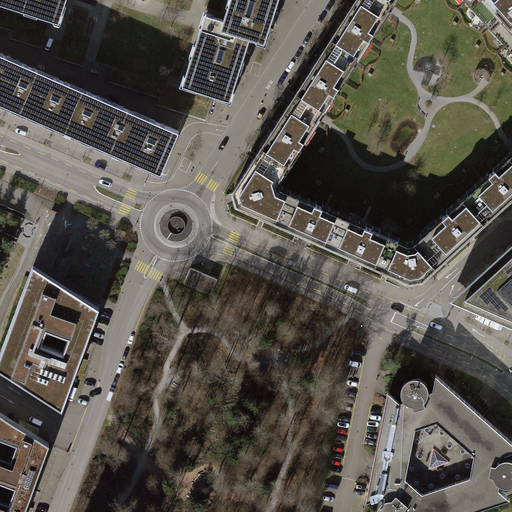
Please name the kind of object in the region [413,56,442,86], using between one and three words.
playground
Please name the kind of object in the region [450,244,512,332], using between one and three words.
building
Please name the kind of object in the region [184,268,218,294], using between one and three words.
building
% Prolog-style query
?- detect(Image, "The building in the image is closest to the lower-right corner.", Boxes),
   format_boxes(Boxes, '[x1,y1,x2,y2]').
[363,371,512,512]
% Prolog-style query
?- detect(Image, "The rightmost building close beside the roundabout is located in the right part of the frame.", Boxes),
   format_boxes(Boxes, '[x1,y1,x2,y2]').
[232,0,512,286]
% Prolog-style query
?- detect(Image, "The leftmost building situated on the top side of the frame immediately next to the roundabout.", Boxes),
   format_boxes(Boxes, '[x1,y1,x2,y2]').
[0,50,179,178]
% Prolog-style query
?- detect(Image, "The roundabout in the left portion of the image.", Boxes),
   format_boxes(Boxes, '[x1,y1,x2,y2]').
[140,189,212,260]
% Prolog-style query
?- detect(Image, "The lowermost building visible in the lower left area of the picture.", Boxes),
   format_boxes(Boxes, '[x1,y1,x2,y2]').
[0,412,50,512]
